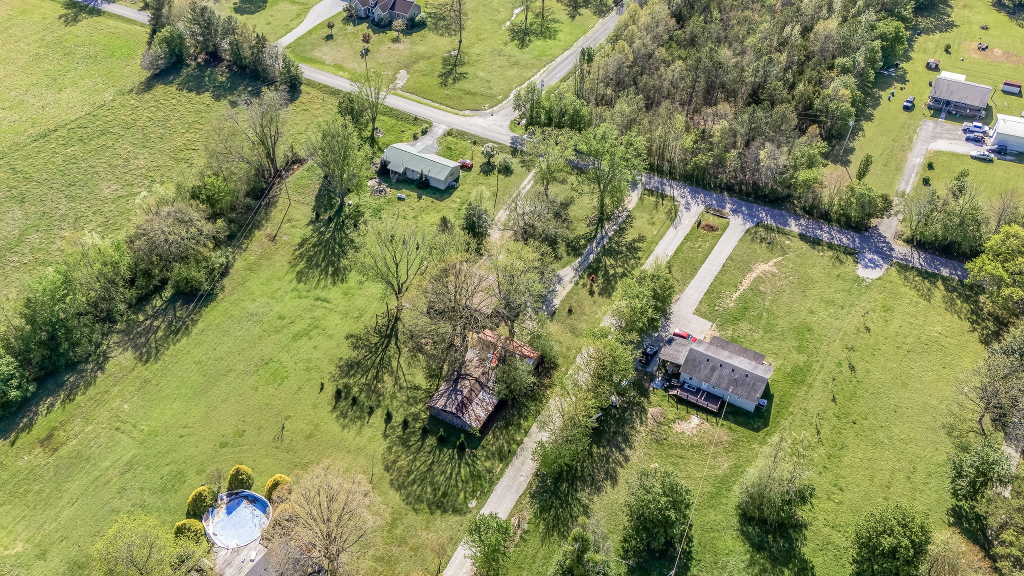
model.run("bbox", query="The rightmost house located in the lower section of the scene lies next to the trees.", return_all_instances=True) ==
[658,336,774,419]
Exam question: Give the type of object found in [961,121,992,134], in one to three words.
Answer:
vehicle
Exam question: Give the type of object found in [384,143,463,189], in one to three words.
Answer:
house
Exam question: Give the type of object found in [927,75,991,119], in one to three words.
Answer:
house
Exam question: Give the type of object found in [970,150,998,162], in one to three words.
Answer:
vehicle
